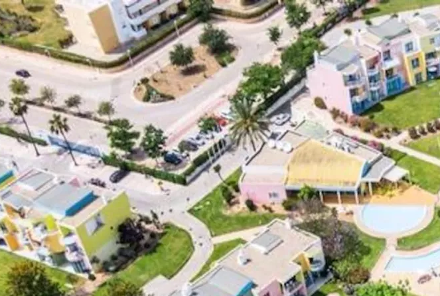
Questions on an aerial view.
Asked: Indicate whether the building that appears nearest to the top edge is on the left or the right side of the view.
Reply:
left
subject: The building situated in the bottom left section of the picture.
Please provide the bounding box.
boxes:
[0,154,139,278]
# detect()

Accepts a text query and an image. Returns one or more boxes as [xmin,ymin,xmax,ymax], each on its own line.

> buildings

[240,129,411,205]
[73,0,193,53]
[0,154,139,278]
[174,215,334,296]
[306,0,440,114]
